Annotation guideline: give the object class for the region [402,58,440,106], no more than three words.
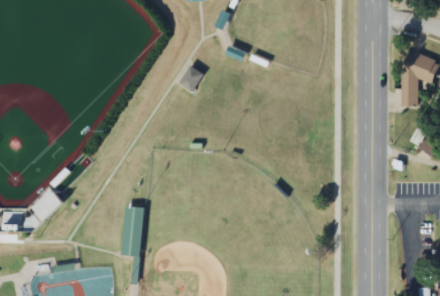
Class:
house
